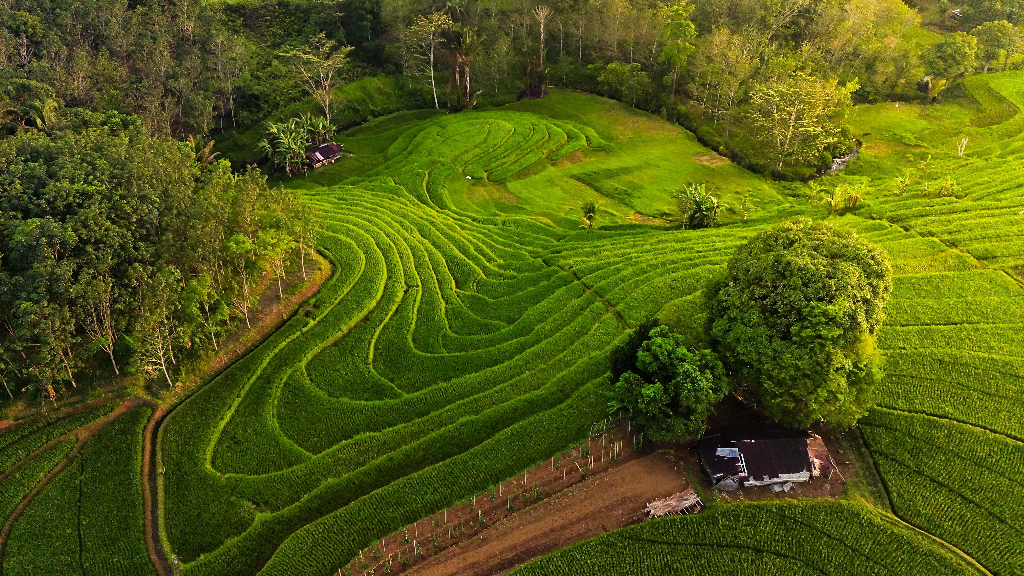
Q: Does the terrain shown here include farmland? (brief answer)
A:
Yes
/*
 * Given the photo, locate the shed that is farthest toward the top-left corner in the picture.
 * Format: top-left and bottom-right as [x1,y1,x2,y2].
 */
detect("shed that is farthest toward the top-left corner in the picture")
[306,142,344,174]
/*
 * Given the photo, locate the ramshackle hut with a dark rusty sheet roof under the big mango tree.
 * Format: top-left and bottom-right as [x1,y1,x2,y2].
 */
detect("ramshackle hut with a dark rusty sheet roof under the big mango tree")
[692,427,835,495]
